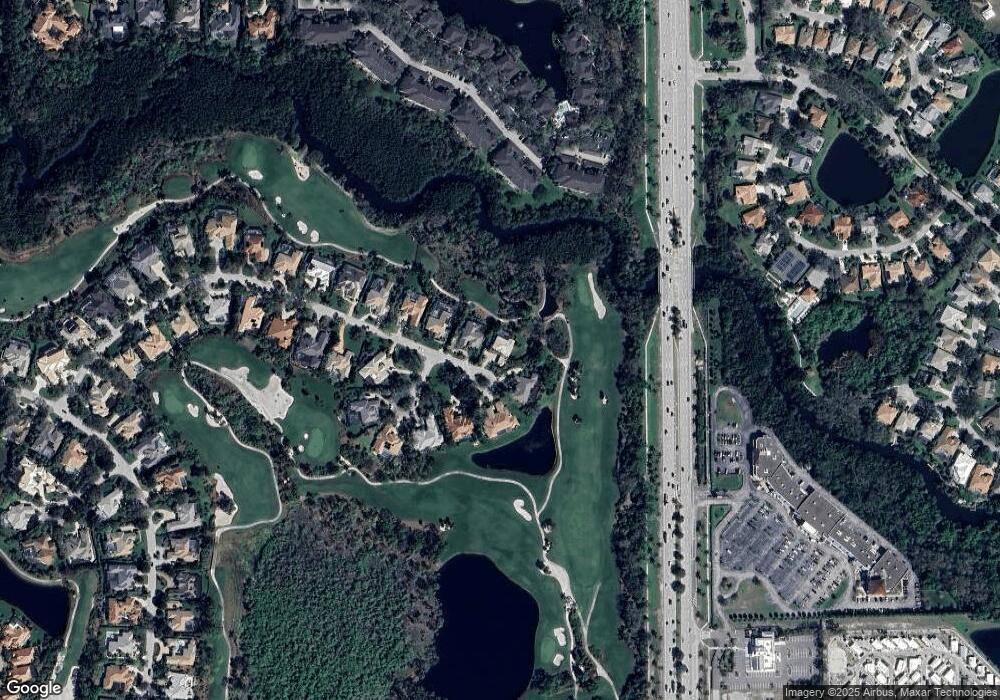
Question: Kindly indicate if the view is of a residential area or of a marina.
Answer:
residential area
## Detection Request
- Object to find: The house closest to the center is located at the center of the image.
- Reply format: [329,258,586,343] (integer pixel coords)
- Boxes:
[492,331,519,367]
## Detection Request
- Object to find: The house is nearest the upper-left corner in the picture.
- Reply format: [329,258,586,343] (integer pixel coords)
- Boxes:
[27,0,83,56]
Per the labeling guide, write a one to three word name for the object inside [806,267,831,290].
building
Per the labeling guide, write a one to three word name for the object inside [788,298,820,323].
swimming pool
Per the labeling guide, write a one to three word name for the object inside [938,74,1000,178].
pond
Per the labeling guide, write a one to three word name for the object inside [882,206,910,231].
house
